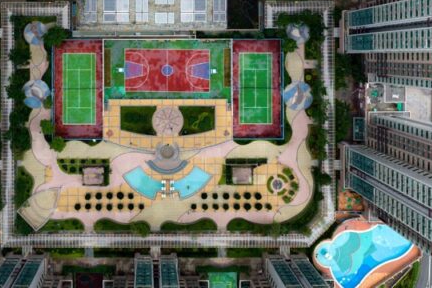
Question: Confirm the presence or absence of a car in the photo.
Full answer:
No, there appears to be no car in this shot.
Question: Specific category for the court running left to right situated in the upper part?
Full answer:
The court running left to right situated in the upper part in the image is a basketball court.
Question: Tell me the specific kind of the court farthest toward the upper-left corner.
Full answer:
I'd identify the court farthest toward the upper-left corner as a tennis court.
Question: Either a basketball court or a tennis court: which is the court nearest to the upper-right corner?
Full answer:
I'd identify the court nearest to the upper-right corner as a tennis court.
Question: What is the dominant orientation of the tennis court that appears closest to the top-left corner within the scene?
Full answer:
The tennis court that appears closest to the top-left corner is oriented up and down.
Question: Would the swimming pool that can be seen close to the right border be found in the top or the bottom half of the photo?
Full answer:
You can find the swimming pool that can be seen close to the right border in the bottom half.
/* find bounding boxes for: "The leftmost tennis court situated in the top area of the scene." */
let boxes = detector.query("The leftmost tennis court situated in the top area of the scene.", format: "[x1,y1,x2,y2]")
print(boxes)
[52,40,103,141]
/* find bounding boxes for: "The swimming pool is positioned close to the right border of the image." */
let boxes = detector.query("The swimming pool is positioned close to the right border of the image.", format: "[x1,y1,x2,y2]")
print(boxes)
[313,211,420,288]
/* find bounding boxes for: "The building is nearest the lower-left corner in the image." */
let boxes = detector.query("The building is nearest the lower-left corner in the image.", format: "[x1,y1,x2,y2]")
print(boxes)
[0,253,74,288]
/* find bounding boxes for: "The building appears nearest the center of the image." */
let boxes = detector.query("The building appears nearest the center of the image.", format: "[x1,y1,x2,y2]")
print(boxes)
[230,165,253,186]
